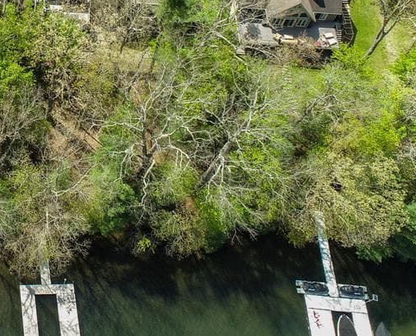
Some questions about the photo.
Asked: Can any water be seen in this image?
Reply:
Yes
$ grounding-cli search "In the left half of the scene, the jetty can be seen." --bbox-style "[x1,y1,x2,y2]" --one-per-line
[19,234,81,336]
